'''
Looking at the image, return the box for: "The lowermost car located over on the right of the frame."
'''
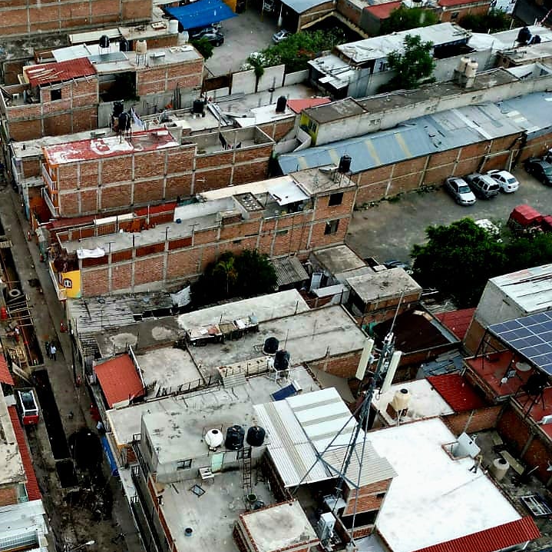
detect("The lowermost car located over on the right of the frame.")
[374,254,421,280]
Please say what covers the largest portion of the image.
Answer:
buildings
